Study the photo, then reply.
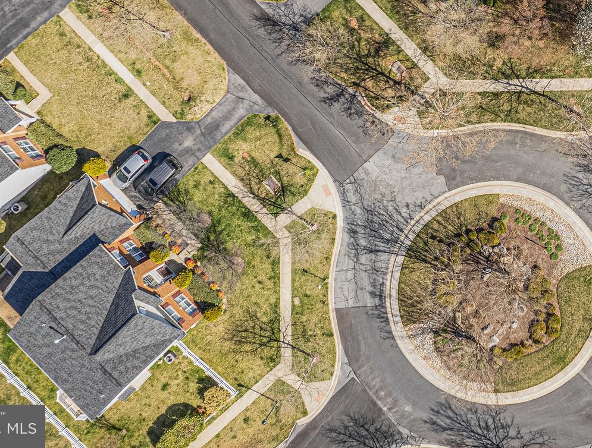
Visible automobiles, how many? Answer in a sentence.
The count of automobiles comes to 2.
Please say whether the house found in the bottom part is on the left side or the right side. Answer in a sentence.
The house found in the bottom part is on the left side of the image.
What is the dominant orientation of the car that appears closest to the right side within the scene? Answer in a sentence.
The car that appears closest to the right side has been laid out on a diagonal relative to the frame.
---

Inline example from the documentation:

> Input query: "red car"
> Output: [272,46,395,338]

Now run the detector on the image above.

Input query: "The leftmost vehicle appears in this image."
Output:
[109,146,155,190]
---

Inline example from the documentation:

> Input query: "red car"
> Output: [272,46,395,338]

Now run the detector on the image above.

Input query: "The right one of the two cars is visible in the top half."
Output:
[138,154,183,200]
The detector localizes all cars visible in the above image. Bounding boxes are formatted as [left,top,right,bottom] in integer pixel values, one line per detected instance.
[138,154,183,200]
[109,146,155,190]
